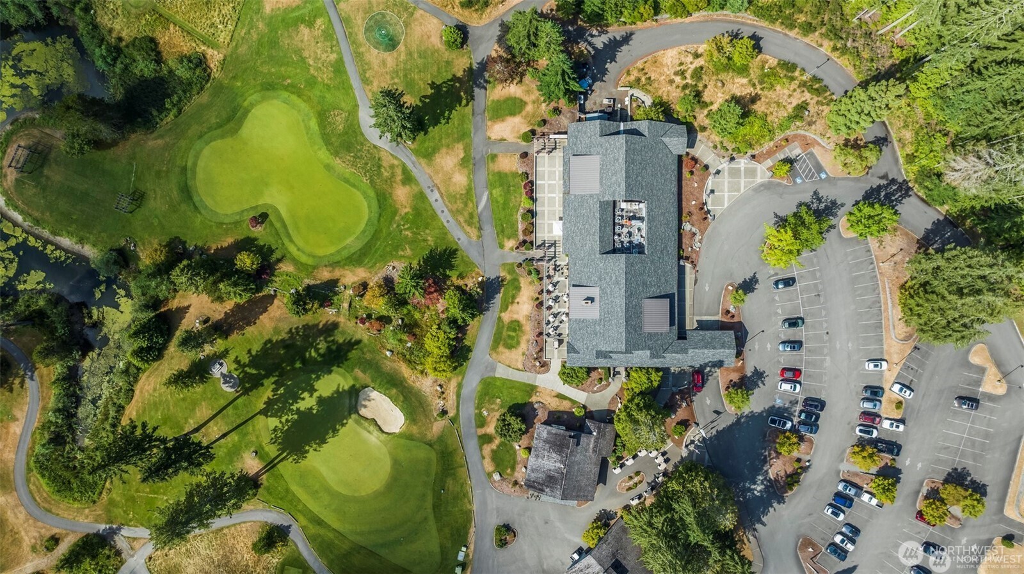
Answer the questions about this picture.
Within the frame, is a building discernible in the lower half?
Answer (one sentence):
Yes, you'll find a building in the lower half.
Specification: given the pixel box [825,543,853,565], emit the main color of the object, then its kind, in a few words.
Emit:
blue truck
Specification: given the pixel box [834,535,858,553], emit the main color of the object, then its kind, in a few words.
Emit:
white car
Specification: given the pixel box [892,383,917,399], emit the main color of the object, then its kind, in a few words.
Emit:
white car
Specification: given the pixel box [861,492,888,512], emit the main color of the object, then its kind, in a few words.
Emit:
white vehicle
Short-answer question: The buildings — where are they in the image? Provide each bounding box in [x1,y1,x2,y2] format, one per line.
[525,419,615,501]
[567,517,668,574]
[562,119,737,367]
